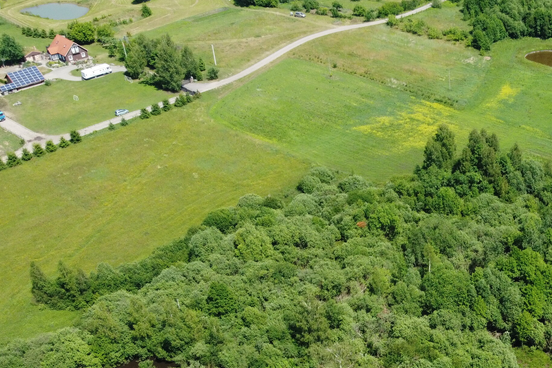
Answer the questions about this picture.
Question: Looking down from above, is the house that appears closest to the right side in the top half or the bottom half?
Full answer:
The house that appears closest to the right side sits in the top half of the picture.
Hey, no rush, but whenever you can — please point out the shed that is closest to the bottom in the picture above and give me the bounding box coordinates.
[0,66,47,98]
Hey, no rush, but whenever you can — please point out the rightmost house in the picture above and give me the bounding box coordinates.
[41,32,85,62]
